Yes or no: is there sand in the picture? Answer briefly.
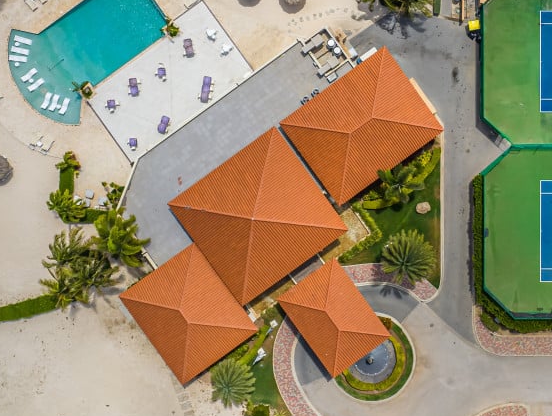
Yes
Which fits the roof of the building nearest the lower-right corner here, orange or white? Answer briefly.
orange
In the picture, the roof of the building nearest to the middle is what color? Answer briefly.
orange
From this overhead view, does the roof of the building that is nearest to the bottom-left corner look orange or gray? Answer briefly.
orange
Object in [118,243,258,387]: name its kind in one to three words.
building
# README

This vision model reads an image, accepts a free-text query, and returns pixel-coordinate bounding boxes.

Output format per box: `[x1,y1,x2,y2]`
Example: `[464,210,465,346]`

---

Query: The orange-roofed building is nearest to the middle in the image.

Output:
[167,127,348,308]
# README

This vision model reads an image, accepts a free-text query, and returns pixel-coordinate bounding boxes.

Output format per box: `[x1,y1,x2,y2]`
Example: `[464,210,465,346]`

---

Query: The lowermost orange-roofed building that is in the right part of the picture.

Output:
[276,259,391,379]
